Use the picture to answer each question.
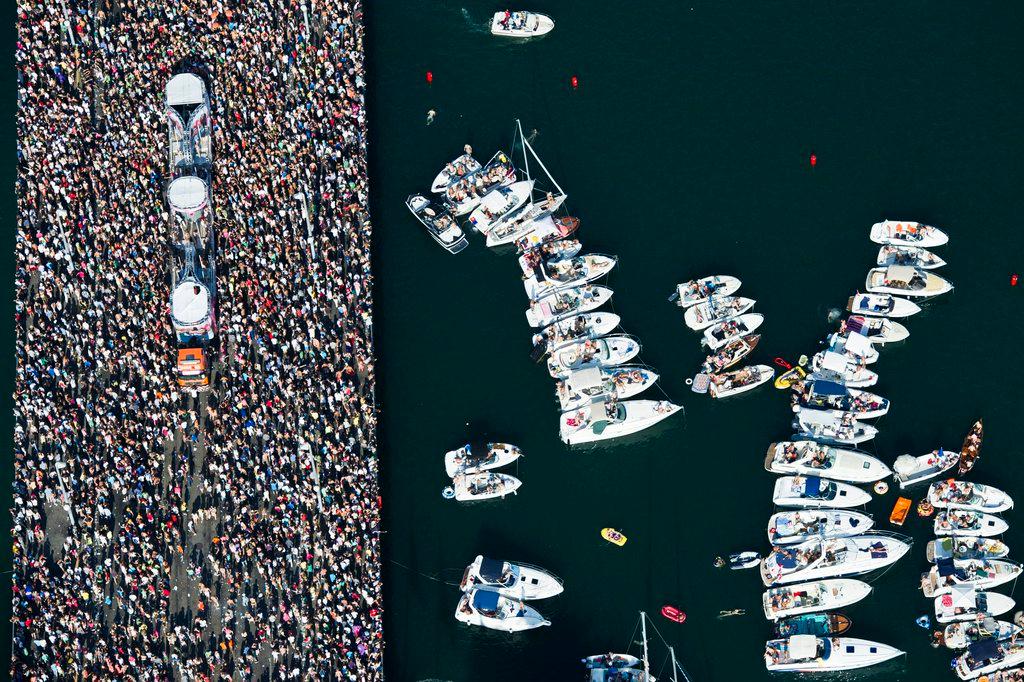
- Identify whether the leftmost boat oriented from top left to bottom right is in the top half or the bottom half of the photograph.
top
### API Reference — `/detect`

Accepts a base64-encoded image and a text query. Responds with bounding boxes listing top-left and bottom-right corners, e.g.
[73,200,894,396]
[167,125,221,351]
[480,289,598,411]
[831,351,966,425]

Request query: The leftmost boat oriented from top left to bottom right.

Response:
[406,192,463,248]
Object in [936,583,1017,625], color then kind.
white boat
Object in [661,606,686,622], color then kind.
red boat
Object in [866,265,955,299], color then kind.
white boat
